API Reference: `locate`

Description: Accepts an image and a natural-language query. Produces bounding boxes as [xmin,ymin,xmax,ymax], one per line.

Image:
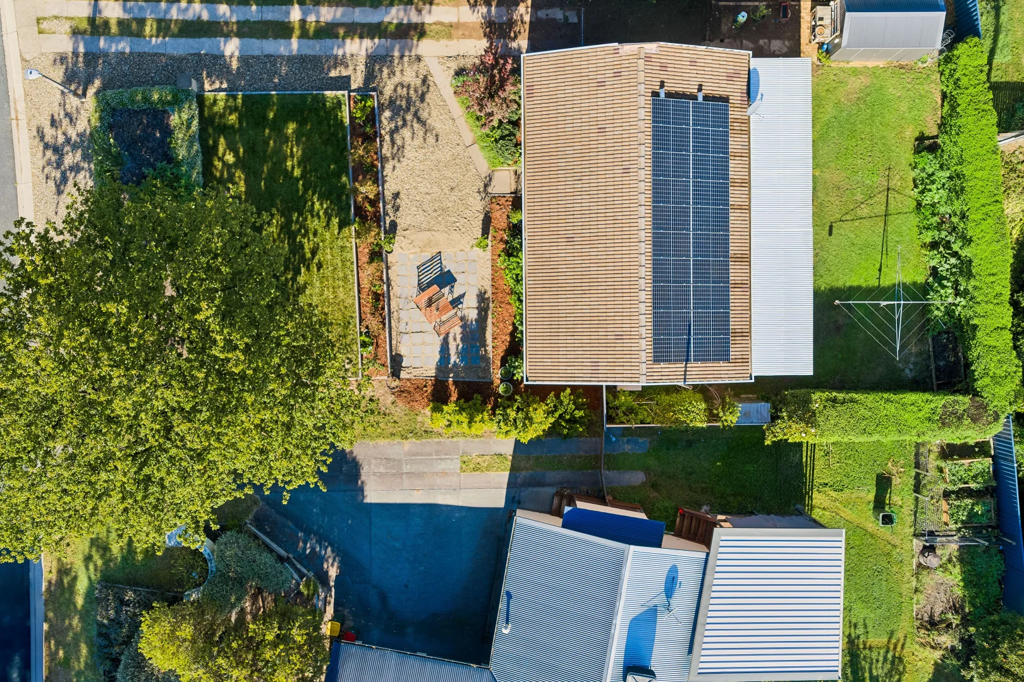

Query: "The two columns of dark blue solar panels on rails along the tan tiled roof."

[652,90,730,364]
